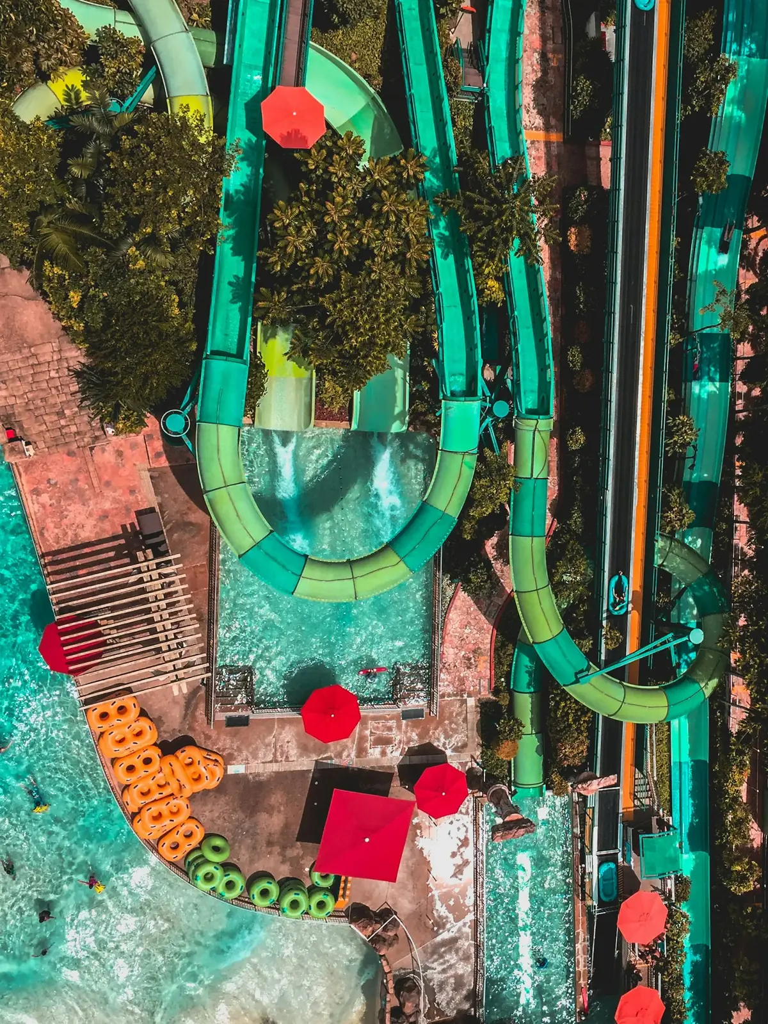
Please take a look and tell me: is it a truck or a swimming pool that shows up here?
swimming pool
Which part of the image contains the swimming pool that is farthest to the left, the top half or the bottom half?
bottom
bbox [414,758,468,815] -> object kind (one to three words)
umbrella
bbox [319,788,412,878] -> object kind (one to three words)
umbrella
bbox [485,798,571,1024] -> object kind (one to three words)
swimming pool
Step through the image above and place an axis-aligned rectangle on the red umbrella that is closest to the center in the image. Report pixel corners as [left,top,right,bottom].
[302,682,360,741]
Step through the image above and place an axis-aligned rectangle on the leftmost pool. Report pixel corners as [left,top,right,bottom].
[0,453,387,1024]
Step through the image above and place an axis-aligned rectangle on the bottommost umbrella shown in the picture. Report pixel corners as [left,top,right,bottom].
[612,961,665,1024]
